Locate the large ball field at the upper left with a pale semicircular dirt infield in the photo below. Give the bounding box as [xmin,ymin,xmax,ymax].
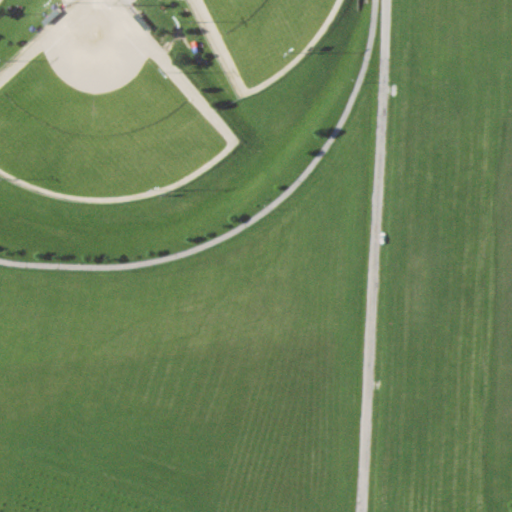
[0,0,239,203]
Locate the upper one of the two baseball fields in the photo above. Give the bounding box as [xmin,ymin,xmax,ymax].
[187,0,344,99]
